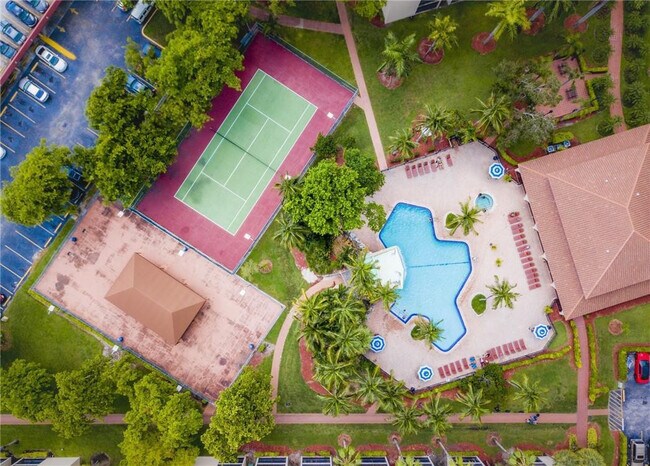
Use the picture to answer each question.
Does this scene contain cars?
Yes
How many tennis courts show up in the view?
one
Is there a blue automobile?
Yes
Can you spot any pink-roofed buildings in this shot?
Yes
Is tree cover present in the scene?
Yes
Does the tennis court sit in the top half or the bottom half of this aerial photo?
top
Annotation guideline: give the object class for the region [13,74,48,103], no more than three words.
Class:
car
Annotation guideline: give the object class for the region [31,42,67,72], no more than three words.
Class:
car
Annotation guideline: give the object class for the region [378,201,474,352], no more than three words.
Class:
swimming pool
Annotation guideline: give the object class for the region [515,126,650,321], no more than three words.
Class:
building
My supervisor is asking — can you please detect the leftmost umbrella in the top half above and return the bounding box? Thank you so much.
[488,163,504,178]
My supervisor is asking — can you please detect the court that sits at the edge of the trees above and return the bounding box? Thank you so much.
[133,31,355,272]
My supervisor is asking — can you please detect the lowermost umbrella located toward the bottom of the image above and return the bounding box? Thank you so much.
[417,364,433,381]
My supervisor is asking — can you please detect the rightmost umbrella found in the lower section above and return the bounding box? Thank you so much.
[533,323,548,338]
